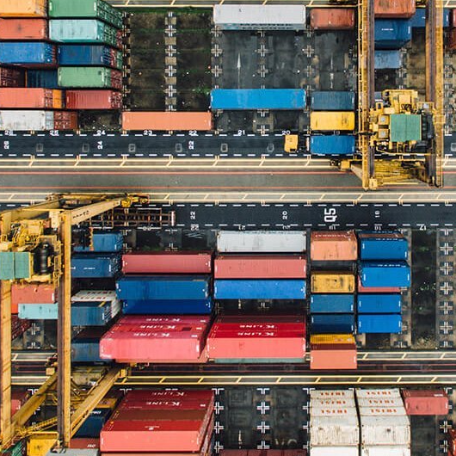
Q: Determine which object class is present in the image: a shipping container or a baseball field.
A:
shipping container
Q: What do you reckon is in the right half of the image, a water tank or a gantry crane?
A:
gantry crane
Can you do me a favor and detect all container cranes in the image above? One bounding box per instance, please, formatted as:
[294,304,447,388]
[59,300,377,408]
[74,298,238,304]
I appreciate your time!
[330,0,446,189]
[0,188,149,456]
